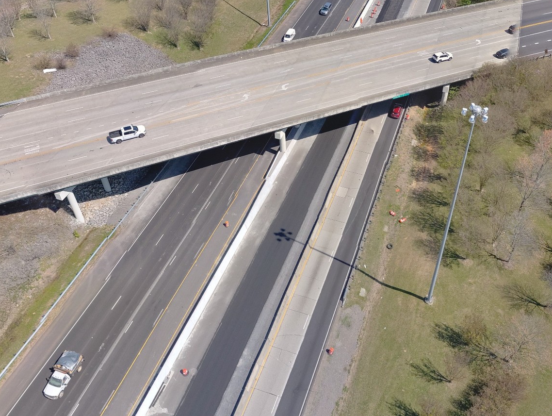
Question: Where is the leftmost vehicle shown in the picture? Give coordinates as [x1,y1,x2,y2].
[38,343,84,404]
